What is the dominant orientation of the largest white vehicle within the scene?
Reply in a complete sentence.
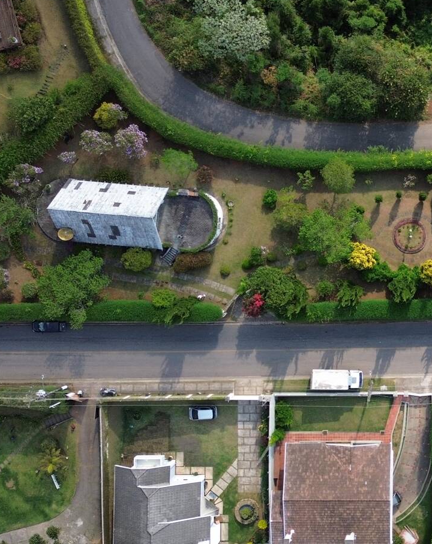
From this overhead view, the largest white vehicle appears to run from side to side.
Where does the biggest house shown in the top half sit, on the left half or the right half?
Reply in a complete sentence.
The biggest house shown in the top half sits on the left side.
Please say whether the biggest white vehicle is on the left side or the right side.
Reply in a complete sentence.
You can find the biggest white vehicle on the right side of the picture.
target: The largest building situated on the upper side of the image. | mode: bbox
[46,175,169,250]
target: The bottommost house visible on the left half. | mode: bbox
[110,448,228,544]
